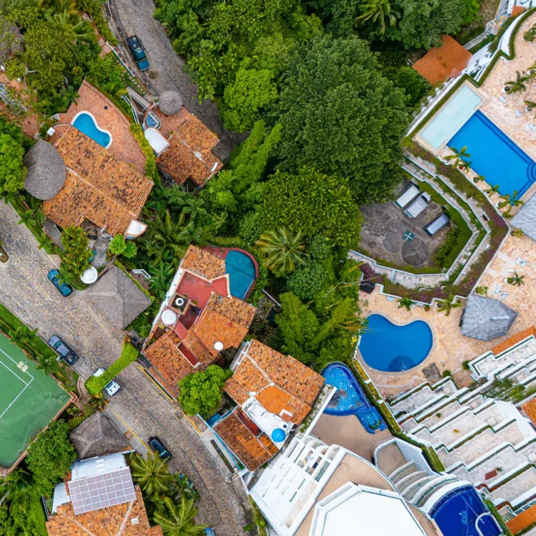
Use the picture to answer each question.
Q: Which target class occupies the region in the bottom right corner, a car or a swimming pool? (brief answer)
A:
swimming pool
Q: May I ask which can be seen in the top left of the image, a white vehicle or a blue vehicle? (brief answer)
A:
blue vehicle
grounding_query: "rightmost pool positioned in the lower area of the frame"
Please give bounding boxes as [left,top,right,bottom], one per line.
[424,479,506,536]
